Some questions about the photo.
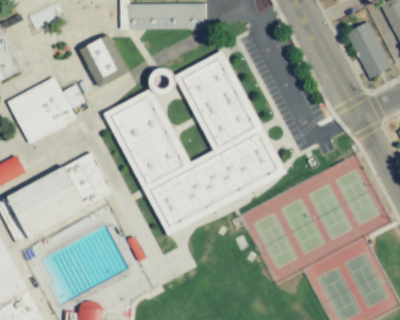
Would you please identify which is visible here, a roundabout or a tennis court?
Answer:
tennis court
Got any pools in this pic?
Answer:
Yes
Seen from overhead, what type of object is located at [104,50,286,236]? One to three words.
building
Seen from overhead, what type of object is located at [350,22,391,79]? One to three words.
house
